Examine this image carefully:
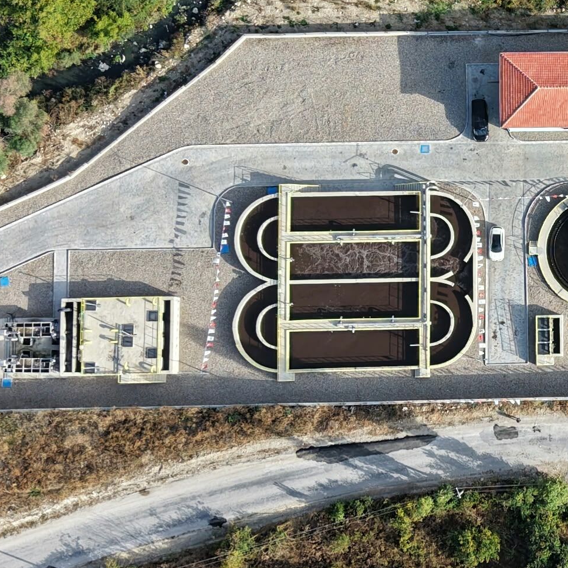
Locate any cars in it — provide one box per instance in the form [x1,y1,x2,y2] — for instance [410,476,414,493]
[471,98,489,141]
[487,226,505,261]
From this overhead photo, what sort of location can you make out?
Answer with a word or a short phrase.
industrial area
